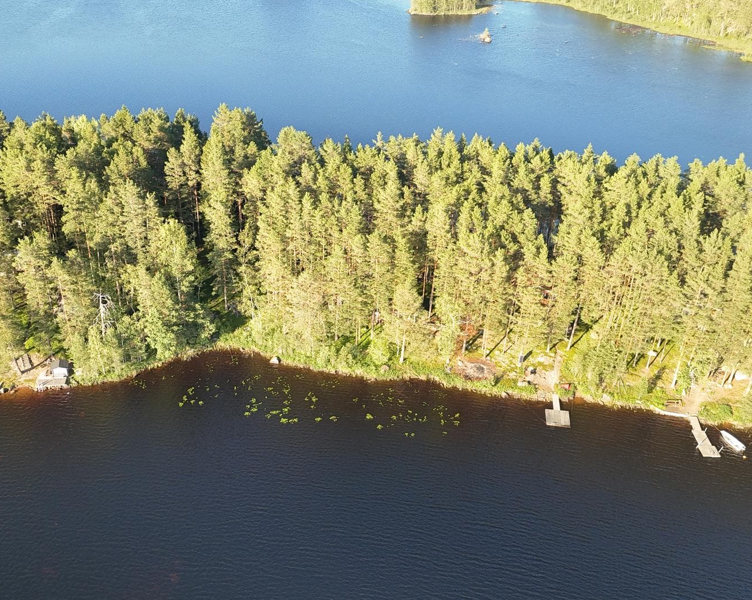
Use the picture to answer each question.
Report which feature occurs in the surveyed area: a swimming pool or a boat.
boat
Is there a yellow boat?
No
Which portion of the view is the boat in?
bottom right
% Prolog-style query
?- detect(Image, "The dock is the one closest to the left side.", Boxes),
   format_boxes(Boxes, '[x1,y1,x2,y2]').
[546,394,570,430]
